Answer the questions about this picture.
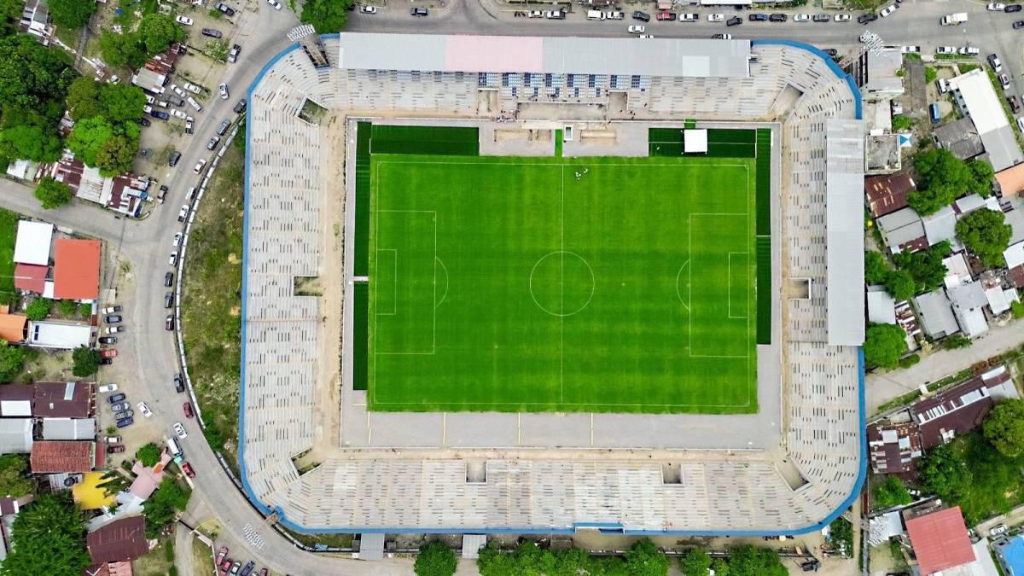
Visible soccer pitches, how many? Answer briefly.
1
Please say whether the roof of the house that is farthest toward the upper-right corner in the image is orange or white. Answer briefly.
white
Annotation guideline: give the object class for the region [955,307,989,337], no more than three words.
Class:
house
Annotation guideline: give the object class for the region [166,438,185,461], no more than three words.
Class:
vehicle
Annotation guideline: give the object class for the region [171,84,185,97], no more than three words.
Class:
vehicle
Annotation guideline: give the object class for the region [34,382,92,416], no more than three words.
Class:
house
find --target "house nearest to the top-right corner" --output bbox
[949,72,1008,135]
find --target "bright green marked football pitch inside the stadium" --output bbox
[367,154,758,414]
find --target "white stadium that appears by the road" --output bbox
[238,31,867,535]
